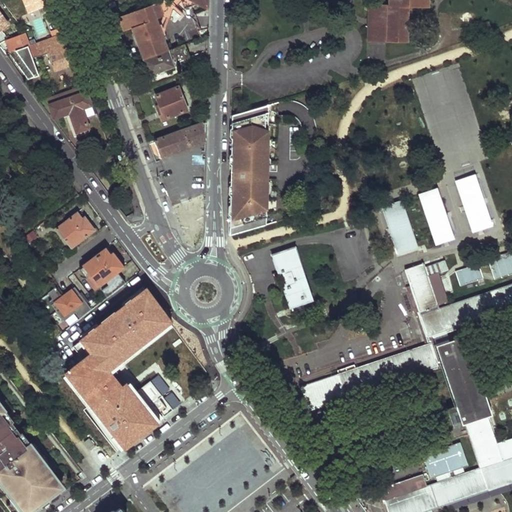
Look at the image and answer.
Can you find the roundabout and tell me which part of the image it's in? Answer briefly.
center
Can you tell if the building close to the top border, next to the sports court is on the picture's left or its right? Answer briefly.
right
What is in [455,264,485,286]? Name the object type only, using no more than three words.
shed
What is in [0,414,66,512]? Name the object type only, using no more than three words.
building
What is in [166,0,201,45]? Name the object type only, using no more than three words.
house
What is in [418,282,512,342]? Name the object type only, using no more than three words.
building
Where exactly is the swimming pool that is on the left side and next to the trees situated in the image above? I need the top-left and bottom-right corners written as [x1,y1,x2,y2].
[31,16,48,38]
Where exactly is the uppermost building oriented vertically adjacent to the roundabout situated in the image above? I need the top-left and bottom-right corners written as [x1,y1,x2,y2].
[232,108,270,234]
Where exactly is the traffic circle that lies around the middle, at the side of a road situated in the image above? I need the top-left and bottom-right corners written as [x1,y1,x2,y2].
[170,256,242,328]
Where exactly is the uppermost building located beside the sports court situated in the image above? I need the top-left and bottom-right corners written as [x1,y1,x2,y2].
[367,0,430,43]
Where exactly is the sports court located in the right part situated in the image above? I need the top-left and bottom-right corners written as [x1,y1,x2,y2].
[414,64,486,166]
